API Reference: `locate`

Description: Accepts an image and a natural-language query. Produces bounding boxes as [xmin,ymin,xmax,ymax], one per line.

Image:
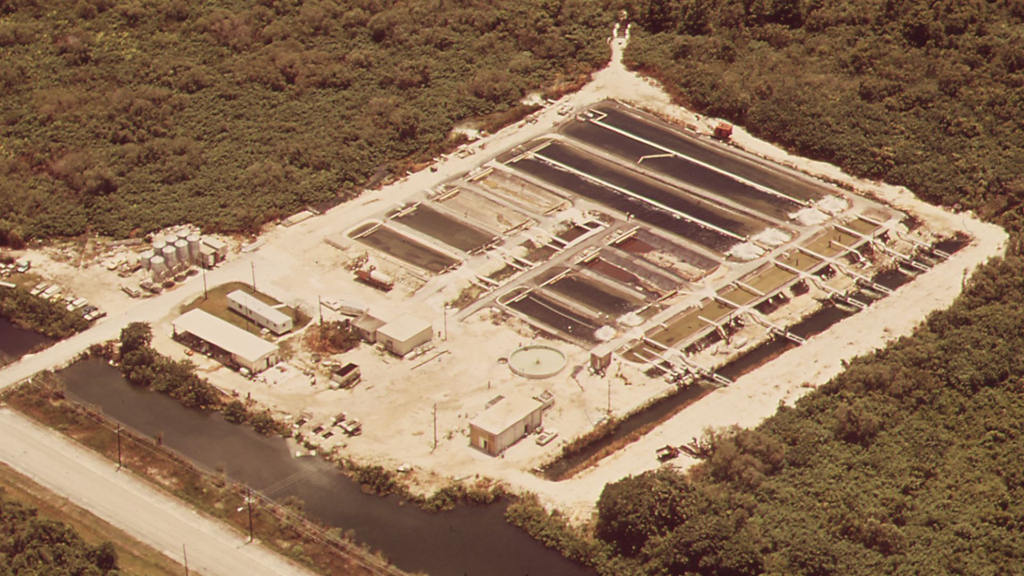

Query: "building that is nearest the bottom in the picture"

[465,392,543,460]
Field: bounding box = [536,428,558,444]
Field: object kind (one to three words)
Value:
vehicle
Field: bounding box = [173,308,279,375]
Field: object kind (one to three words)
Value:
shed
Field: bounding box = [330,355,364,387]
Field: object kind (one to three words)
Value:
truck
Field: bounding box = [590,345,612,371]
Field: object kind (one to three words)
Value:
building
